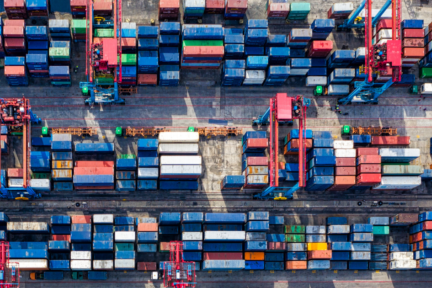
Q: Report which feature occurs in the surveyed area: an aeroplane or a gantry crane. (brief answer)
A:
gantry crane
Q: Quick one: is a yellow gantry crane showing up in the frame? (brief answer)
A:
No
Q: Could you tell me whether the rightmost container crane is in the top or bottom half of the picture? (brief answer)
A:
top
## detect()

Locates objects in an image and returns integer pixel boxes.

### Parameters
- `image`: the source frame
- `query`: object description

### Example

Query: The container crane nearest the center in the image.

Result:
[250,93,306,200]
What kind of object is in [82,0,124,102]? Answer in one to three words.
container crane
